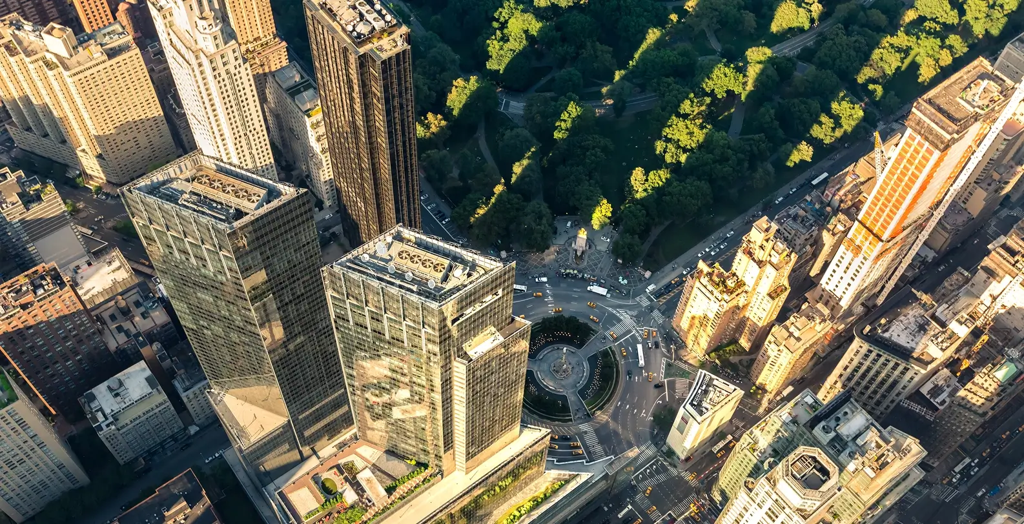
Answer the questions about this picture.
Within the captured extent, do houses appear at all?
Yes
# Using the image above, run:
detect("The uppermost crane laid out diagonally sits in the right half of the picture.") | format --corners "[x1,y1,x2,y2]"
[875,89,1024,308]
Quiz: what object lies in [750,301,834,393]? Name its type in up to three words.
house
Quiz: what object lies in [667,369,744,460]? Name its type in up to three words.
building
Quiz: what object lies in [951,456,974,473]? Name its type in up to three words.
vehicle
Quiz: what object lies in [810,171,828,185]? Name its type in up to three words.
vehicle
